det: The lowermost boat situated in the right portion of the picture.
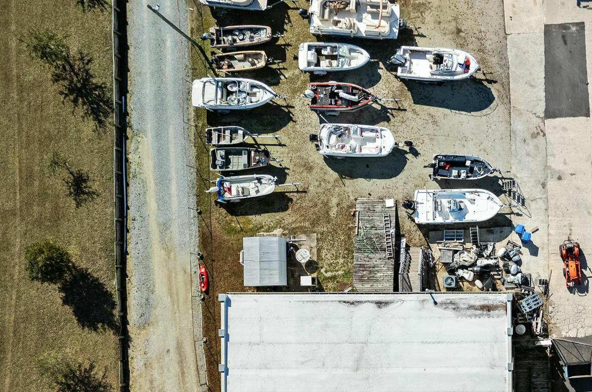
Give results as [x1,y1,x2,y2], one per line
[398,187,503,225]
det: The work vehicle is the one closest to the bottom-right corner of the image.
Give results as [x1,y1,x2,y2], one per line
[559,237,582,281]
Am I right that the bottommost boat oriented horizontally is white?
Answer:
Yes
